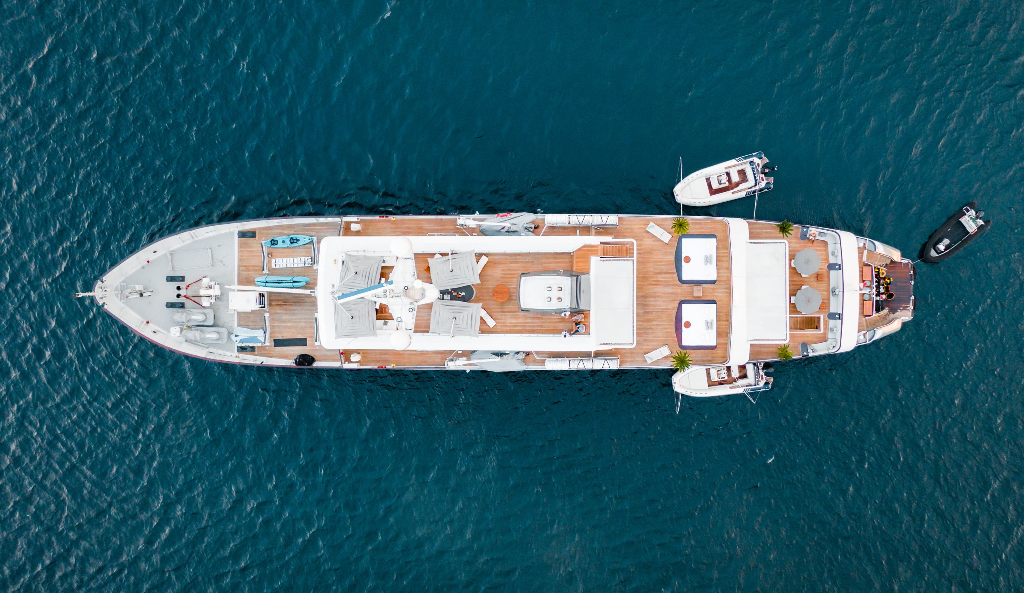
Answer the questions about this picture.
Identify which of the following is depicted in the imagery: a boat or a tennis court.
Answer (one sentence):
It is a boat that can be seen here.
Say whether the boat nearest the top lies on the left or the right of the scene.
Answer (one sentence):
The boat nearest the top is on the right side of the image.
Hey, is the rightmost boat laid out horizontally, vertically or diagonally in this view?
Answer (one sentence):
In this picture, the rightmost boat lies diagonally.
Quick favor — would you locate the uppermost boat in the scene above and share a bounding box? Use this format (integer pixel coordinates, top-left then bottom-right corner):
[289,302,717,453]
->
[674,152,775,205]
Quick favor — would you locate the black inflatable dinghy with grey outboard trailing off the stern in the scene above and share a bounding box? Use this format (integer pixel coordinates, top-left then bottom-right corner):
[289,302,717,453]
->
[925,203,990,263]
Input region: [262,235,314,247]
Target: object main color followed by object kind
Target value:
blue boat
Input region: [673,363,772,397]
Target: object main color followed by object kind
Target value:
white boat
